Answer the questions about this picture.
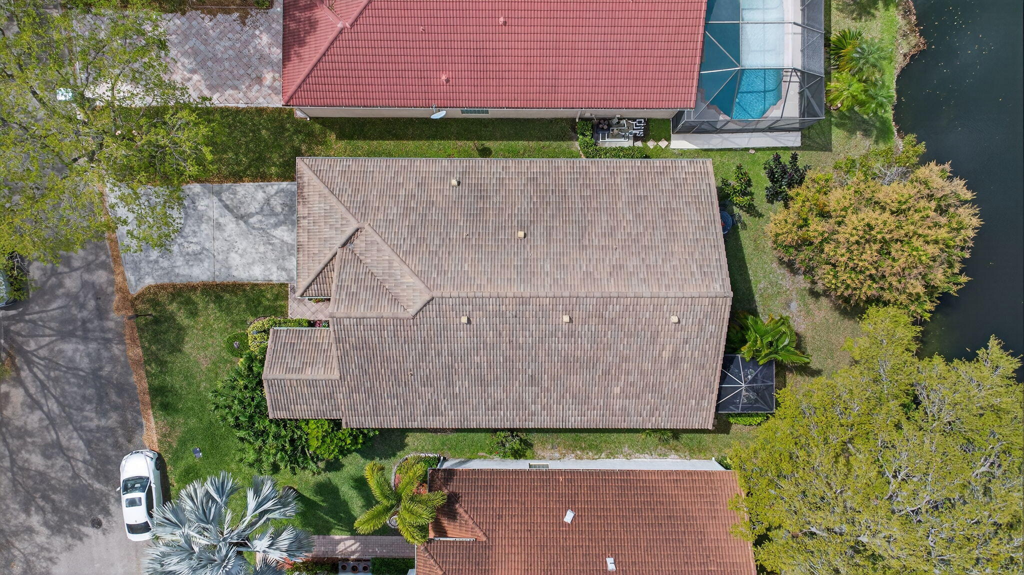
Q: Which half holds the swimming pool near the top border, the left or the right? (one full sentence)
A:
The swimming pool near the top border is on the right side of the image.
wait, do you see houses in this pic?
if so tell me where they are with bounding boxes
[280,0,708,124]
[414,455,754,575]
[260,157,735,430]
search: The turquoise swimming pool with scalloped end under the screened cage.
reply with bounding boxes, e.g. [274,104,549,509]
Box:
[697,0,791,125]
